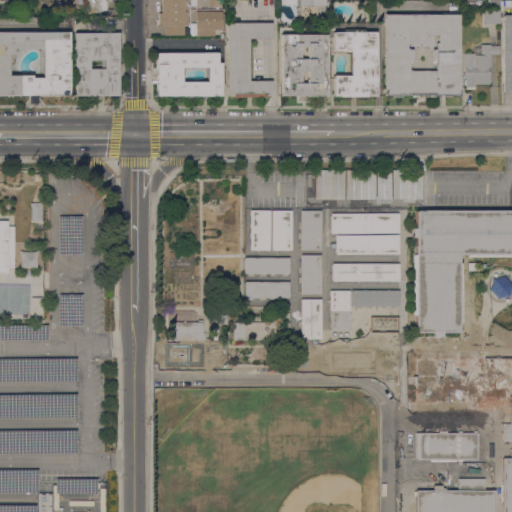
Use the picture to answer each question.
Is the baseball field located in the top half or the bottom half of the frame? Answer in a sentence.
The baseball field is in the bottom half of the image.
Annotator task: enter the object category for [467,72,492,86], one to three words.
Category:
house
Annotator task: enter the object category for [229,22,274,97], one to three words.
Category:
building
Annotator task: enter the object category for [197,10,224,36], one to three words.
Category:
house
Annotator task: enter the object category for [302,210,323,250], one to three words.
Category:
building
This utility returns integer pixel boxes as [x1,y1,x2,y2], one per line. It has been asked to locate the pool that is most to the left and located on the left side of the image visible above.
[18,50,40,74]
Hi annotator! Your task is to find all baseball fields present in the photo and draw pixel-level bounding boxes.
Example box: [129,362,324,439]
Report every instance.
[154,387,384,512]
